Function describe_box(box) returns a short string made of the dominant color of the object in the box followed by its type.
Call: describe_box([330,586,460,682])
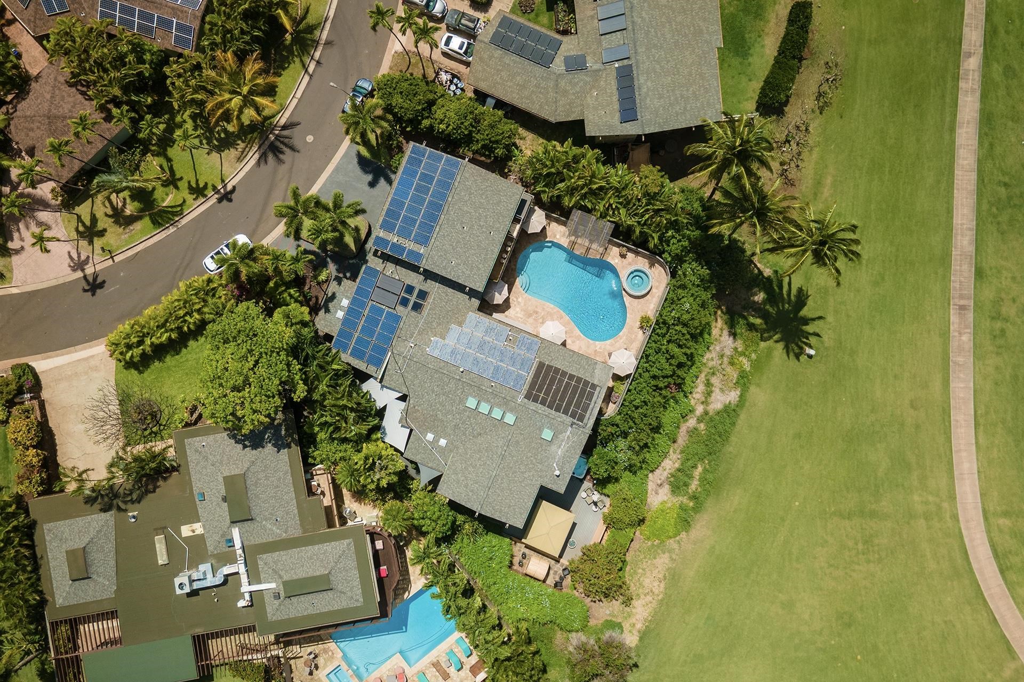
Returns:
blue swimming pool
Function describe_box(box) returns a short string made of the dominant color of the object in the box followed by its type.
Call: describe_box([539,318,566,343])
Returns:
white umbrella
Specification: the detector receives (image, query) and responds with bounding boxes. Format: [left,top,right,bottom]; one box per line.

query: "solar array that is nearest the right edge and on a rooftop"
[427,314,540,387]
